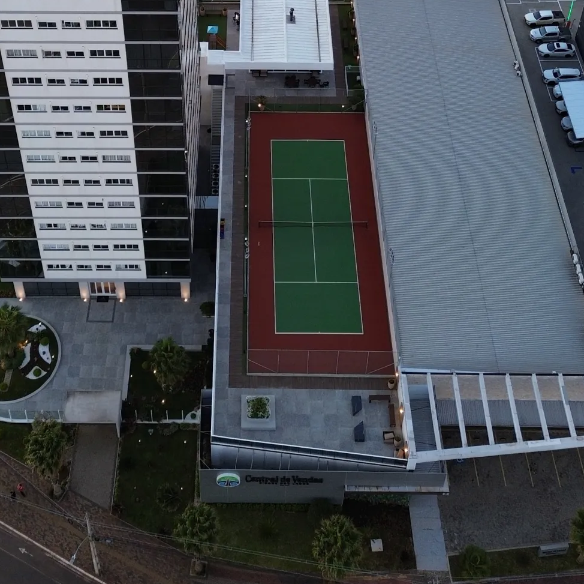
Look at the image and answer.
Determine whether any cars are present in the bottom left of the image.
No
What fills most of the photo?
buildings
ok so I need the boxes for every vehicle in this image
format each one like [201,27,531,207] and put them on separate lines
[554,84,563,100]
[557,99,567,115]
[561,116,573,133]
[524,8,568,27]
[530,24,575,44]
[542,65,584,86]
[565,133,584,151]
[538,42,579,59]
